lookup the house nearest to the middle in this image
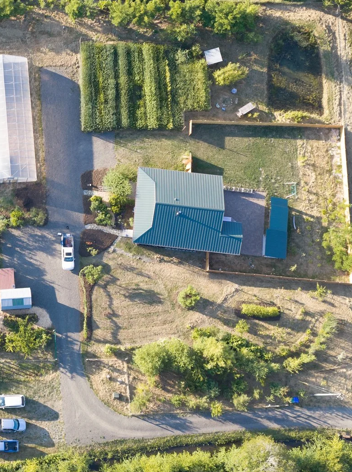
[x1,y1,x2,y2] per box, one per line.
[134,167,244,255]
